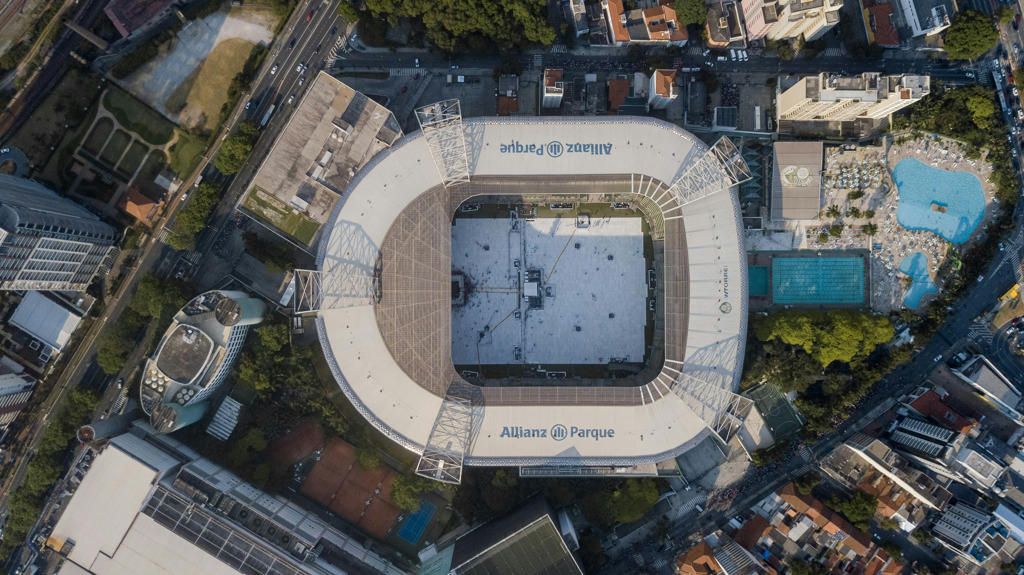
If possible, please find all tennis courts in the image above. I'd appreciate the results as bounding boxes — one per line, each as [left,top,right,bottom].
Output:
[392,495,447,555]
[359,473,401,538]
[301,437,355,504]
[269,420,329,465]
[331,460,386,524]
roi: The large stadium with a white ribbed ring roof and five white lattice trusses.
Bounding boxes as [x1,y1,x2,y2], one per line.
[296,100,753,484]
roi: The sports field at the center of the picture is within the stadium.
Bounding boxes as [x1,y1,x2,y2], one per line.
[452,204,654,378]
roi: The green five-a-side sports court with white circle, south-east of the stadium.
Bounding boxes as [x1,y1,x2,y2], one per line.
[751,386,804,445]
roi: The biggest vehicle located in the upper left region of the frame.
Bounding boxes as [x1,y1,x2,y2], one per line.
[259,103,276,125]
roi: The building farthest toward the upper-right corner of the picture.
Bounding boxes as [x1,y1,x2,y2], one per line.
[899,0,958,40]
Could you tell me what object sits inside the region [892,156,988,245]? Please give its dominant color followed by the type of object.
blue swimming pool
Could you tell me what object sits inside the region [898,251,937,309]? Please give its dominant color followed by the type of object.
blue swimming pool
